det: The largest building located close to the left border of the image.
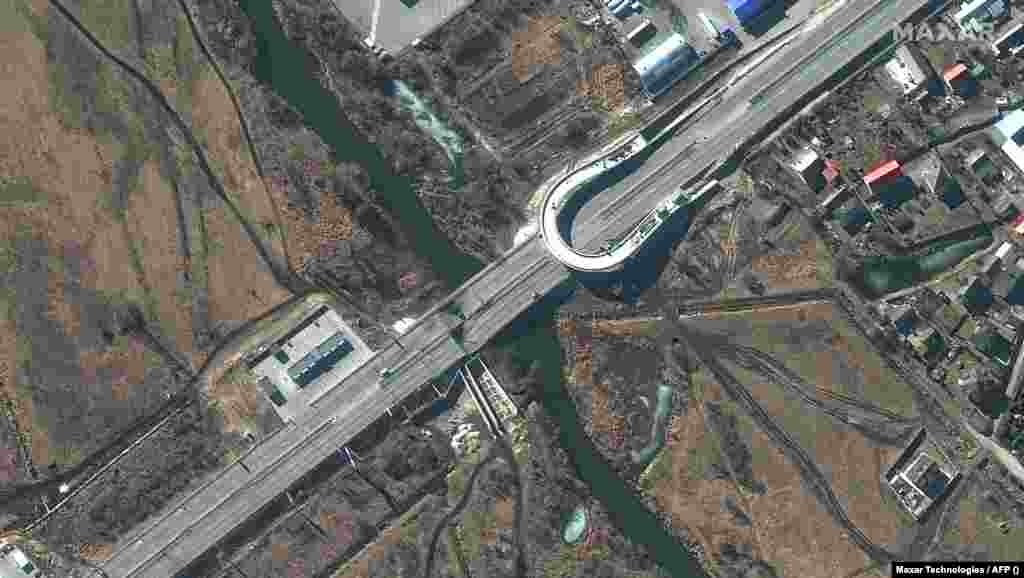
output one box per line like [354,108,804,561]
[4,540,35,572]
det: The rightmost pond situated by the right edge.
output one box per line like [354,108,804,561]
[860,228,989,287]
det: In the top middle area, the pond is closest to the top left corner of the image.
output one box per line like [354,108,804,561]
[388,74,466,184]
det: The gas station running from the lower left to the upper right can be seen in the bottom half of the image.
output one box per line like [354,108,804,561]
[289,329,357,388]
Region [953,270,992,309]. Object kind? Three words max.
house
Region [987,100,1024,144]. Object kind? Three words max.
building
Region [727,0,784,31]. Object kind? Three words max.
building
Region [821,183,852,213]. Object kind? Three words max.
house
